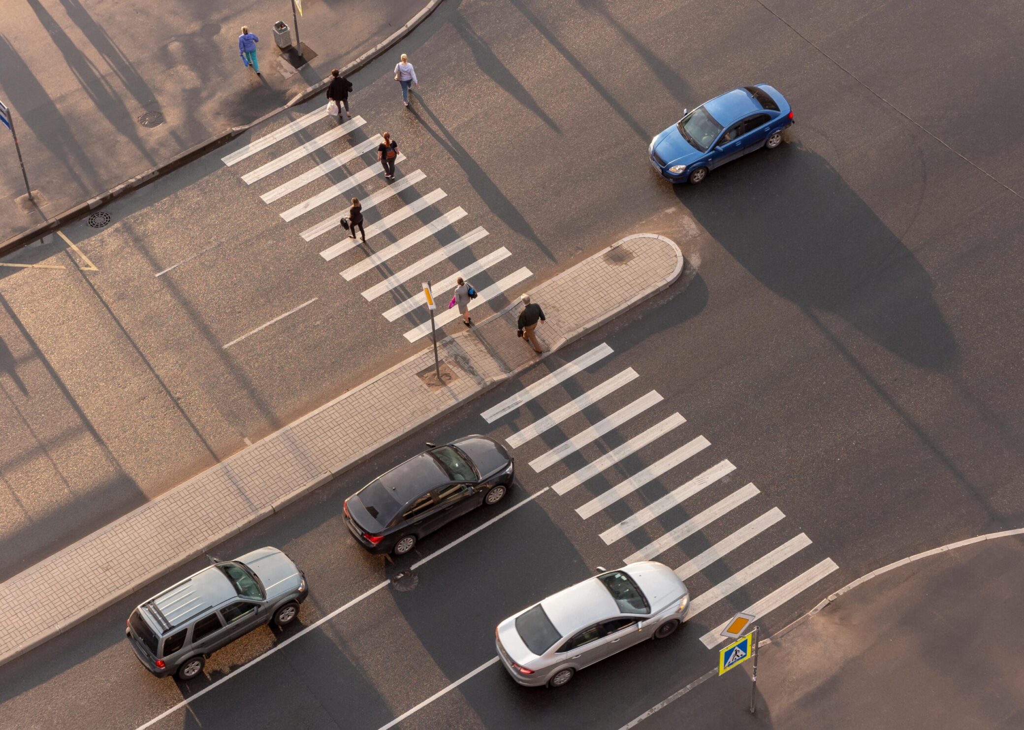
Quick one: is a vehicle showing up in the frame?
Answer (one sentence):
Yes, a vehicle can be made out from above.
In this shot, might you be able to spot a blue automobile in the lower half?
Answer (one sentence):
No, no blue automobile is visible in the lower half.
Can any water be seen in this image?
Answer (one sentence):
No, no water is visible.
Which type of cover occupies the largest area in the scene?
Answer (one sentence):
The bulk of the photo consists of paved ground.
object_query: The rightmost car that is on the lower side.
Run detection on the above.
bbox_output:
[493,559,695,692]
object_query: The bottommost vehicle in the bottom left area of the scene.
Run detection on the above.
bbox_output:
[124,549,309,683]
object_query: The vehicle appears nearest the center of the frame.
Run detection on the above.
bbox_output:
[339,435,517,560]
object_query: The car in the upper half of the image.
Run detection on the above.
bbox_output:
[647,83,798,185]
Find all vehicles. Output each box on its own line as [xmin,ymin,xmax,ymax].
[647,83,798,185]
[124,549,309,683]
[493,559,695,692]
[339,435,517,560]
